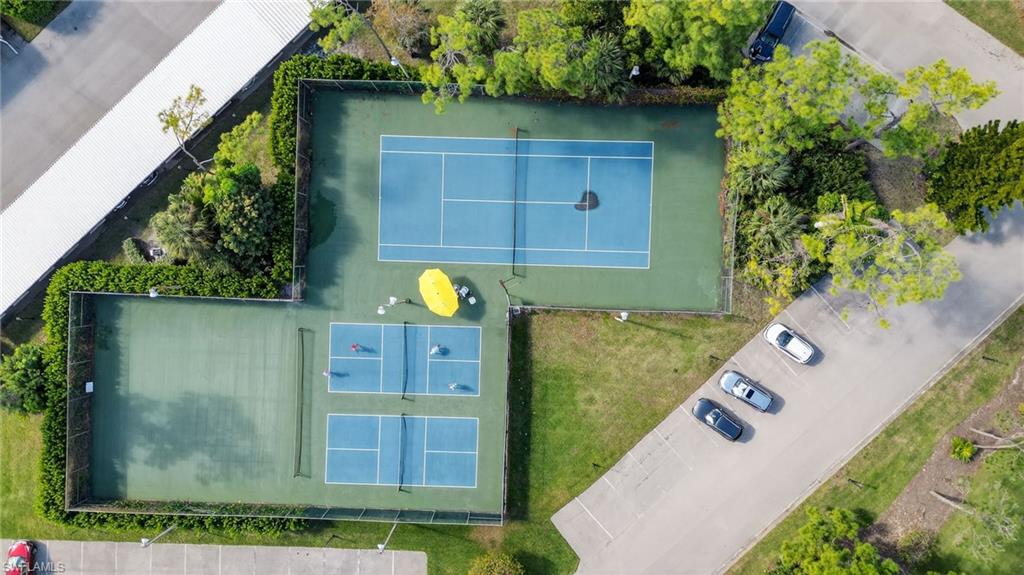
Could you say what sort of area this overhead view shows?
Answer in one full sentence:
This looks like a sports ground.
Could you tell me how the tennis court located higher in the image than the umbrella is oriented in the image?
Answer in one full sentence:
The tennis court located higher in the image than the umbrella has been laid out from side to side relative to the frame.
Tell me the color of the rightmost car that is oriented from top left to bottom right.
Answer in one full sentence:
From above, the rightmost car that is oriented from top left to bottom right appears white.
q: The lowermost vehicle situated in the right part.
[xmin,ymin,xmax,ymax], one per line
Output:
[690,398,745,442]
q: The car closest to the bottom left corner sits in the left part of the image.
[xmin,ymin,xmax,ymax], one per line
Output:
[5,539,35,575]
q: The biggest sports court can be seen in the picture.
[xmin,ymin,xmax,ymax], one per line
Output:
[91,90,732,514]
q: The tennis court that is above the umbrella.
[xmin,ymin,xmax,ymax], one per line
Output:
[378,135,654,268]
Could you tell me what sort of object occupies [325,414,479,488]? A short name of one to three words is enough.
sports court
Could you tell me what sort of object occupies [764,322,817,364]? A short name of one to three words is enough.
car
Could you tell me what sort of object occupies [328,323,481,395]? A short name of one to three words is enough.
sports court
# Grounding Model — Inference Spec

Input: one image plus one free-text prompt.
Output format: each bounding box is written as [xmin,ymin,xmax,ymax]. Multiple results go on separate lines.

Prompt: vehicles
[720,370,776,413]
[5,539,35,575]
[746,2,797,62]
[764,322,817,364]
[690,398,745,442]
[145,169,159,182]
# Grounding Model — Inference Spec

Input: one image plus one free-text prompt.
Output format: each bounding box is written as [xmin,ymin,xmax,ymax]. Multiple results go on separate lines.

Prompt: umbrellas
[419,268,459,317]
